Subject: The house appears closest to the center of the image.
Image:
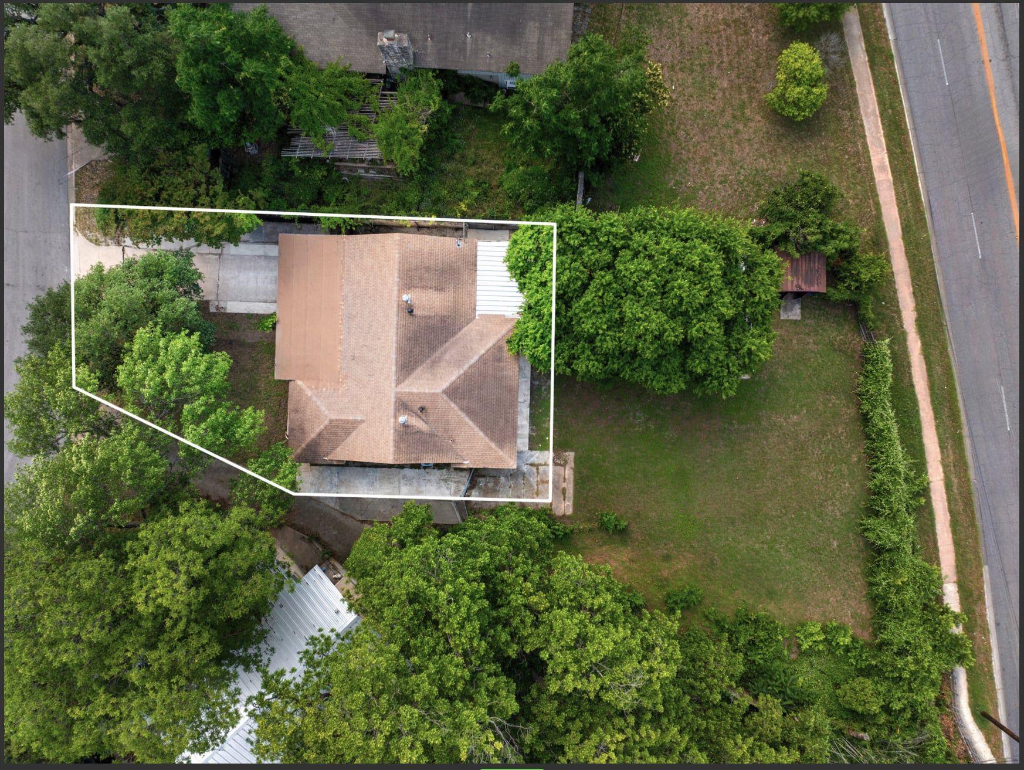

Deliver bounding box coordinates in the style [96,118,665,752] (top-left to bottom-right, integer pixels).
[273,230,531,468]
